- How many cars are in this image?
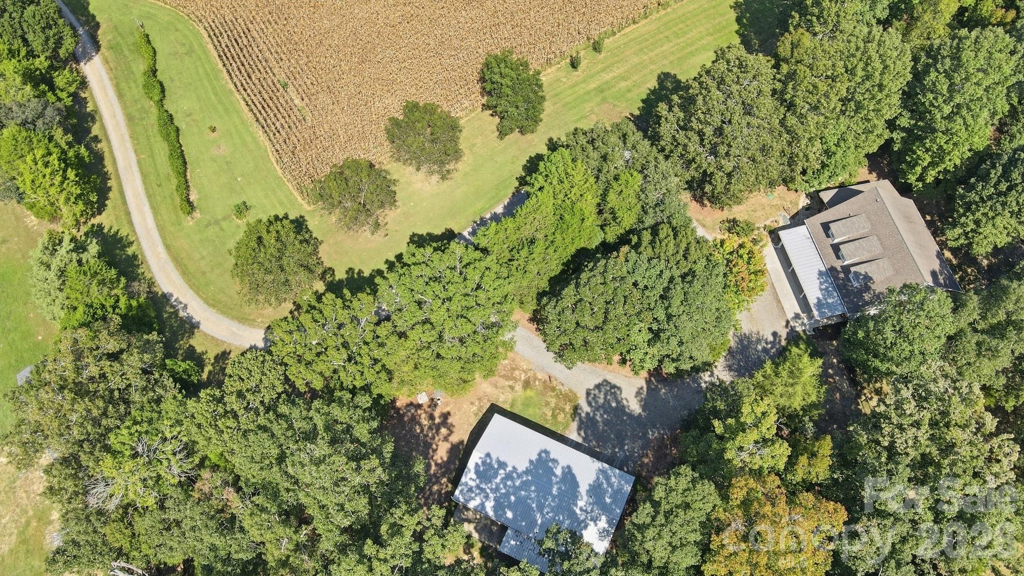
0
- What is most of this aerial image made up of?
trees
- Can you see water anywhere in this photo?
No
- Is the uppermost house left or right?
right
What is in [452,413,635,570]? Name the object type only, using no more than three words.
building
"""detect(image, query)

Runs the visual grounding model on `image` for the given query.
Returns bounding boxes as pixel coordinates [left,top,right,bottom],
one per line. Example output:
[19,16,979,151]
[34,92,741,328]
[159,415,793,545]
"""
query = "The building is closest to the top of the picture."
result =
[769,176,962,336]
